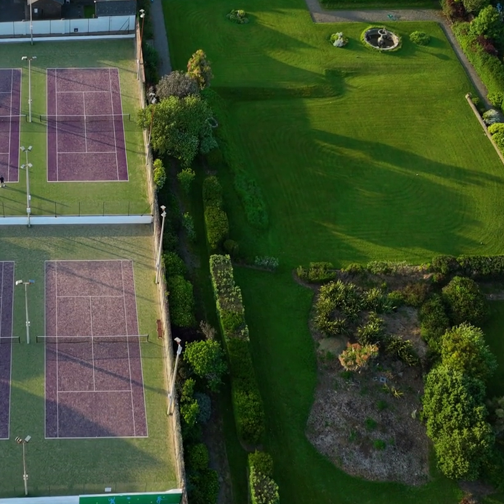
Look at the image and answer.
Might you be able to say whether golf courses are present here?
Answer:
No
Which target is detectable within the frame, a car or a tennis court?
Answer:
tennis court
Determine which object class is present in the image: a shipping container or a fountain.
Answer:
fountain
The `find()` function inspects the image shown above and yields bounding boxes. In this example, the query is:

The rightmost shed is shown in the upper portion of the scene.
[94,0,138,21]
